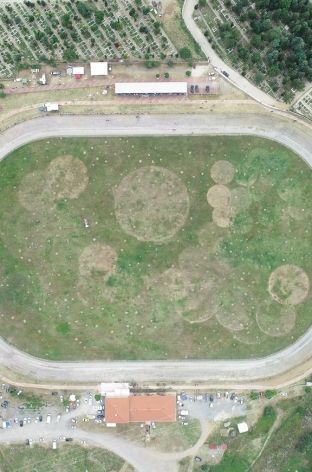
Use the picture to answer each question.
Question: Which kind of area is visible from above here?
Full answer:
It's a sports ground.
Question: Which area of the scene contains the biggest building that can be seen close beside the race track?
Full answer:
Look in the bottom portion of the view to spot the biggest building that can be seen close beside the race track.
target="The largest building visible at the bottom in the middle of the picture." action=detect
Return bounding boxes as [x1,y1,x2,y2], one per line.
[105,391,176,425]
